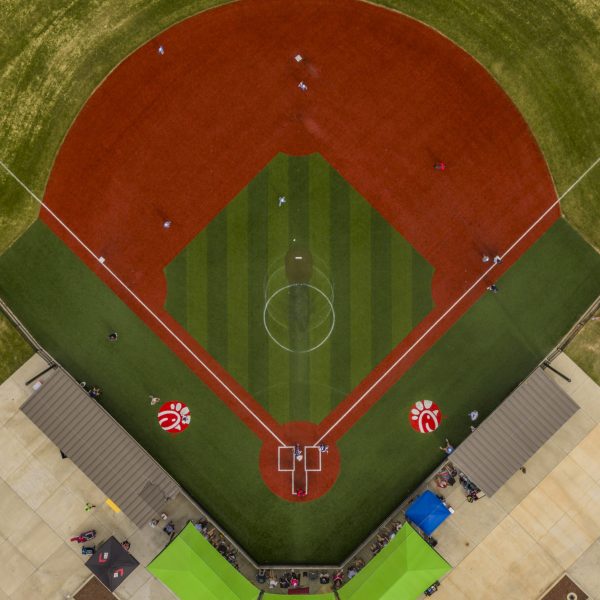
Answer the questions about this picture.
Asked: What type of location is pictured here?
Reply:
sports ground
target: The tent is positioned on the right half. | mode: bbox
[402,483,452,535]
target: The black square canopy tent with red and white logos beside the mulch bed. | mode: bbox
[85,524,147,592]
